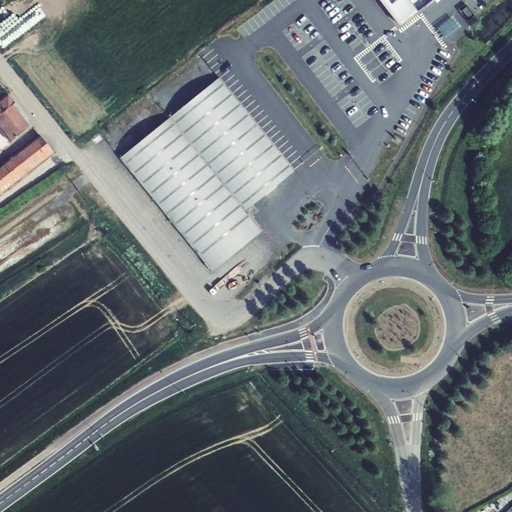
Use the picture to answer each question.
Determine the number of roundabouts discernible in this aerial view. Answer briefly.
1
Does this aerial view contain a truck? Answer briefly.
Yes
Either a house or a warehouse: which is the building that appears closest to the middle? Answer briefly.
warehouse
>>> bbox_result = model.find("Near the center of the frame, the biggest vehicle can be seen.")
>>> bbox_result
[208,260,250,296]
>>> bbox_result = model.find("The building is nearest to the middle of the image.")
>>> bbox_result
[121,78,294,270]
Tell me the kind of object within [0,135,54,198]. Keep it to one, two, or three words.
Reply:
barn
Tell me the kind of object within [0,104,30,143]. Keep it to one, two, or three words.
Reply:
house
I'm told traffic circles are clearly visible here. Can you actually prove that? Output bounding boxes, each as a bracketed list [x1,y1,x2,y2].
[323,258,467,396]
